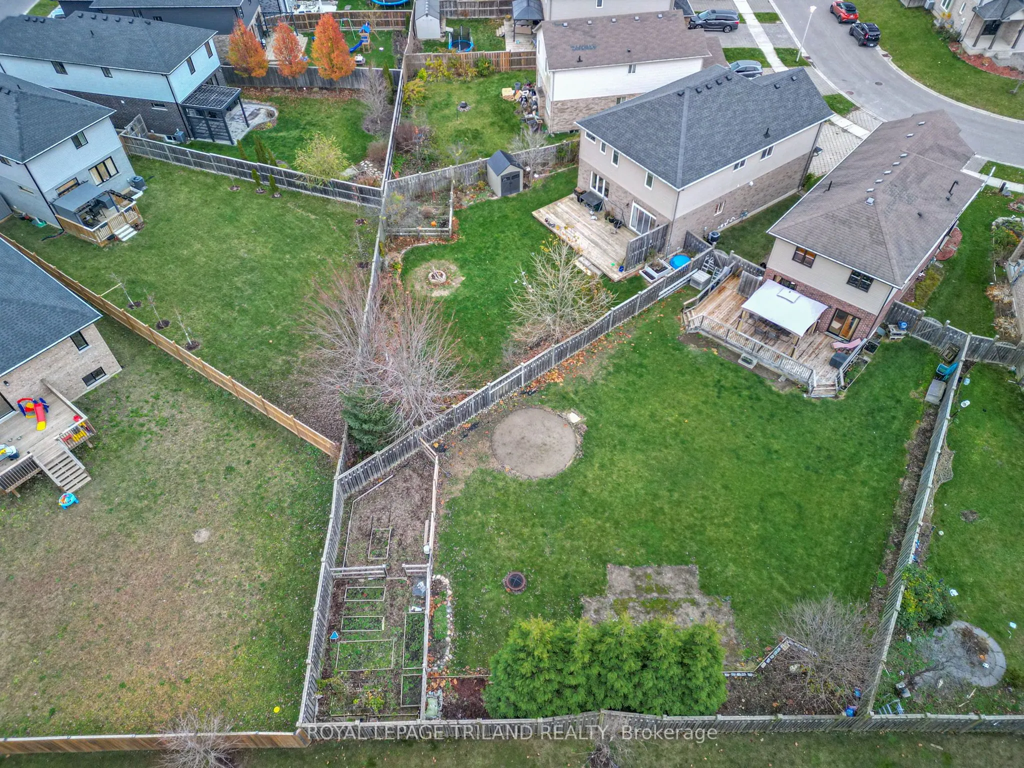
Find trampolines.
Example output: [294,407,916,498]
[370,0,410,10]
[448,28,472,56]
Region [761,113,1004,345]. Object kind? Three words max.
house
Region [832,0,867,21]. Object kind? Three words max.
car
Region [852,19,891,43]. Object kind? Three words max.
car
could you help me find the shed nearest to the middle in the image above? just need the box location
[480,149,522,196]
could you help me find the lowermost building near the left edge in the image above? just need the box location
[0,236,121,417]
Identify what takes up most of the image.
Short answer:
grass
